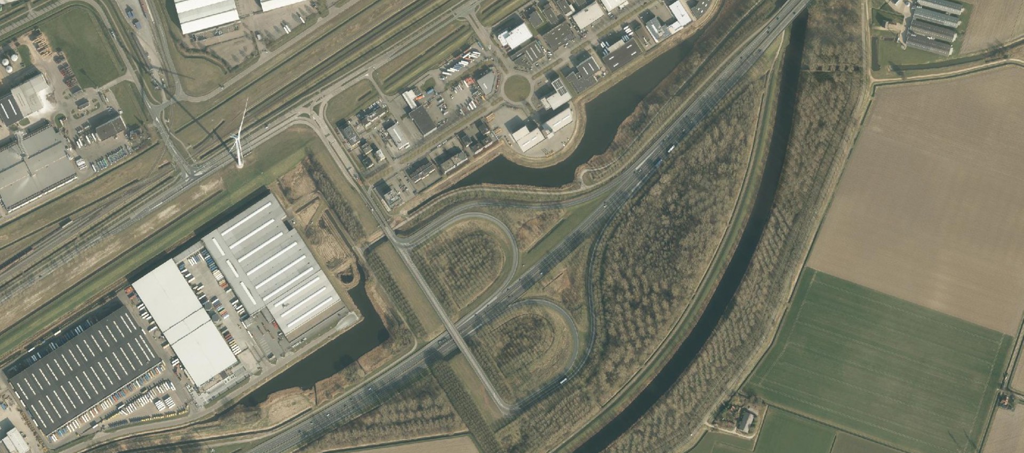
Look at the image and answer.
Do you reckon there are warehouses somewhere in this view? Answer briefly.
Yes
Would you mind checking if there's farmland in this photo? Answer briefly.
Yes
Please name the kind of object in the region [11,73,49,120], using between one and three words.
building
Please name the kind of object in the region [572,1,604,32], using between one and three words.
building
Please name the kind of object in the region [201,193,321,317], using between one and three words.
warehouse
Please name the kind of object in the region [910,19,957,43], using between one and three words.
barn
